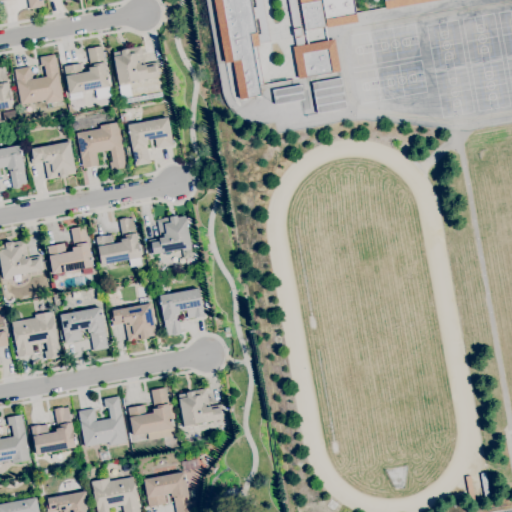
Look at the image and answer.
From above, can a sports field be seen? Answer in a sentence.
Yes, this view includes a sports field.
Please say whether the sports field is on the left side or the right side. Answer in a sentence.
It is on the right.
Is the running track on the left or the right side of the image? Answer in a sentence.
The running track appears in the right half of the scene.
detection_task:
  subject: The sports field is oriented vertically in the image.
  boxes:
[287,158,458,498]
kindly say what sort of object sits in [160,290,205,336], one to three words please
house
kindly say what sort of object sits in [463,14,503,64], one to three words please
basketball court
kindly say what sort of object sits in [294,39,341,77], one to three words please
building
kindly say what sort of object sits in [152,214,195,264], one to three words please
house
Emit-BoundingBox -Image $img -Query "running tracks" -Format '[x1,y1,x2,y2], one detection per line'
[268,140,483,512]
